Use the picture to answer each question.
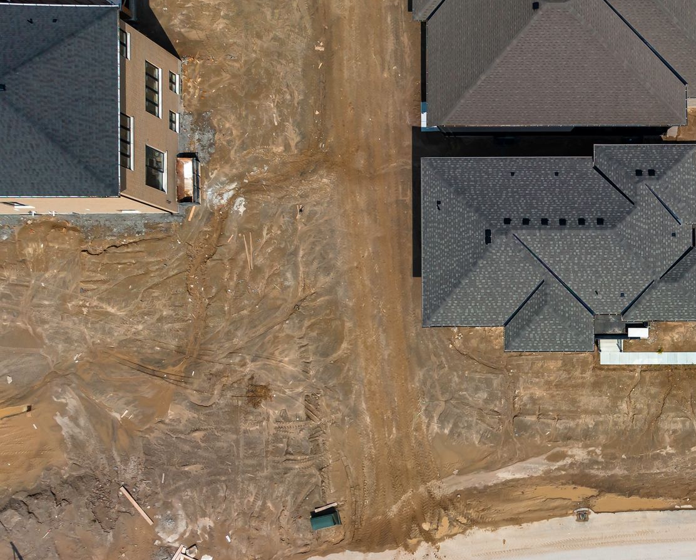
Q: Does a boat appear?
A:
No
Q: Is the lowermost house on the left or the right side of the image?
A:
right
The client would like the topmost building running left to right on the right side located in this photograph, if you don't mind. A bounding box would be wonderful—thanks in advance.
[412,0,696,134]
